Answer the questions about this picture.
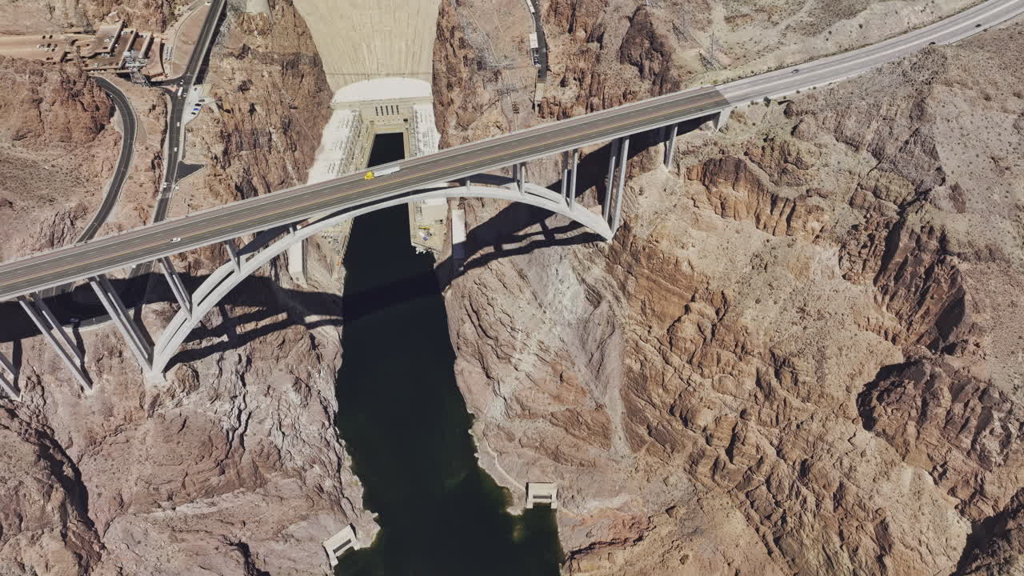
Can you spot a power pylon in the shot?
Yes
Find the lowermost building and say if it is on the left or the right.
left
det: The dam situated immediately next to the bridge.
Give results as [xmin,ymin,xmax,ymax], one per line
[288,0,454,116]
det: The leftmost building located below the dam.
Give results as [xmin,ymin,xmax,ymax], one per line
[288,240,309,291]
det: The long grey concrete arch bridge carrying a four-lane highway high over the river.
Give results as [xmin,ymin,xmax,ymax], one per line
[0,82,737,396]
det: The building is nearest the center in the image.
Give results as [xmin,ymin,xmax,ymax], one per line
[452,197,466,272]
